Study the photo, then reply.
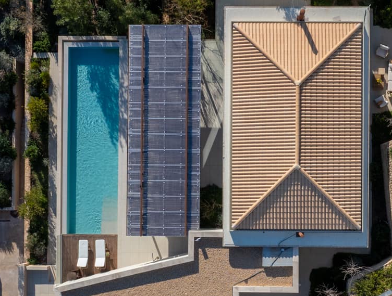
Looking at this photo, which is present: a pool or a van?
pool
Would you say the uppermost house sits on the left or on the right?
right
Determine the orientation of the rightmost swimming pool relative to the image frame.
from top to bottom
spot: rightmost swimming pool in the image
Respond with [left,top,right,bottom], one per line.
[62,42,119,235]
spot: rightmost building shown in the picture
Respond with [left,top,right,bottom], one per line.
[223,4,370,248]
